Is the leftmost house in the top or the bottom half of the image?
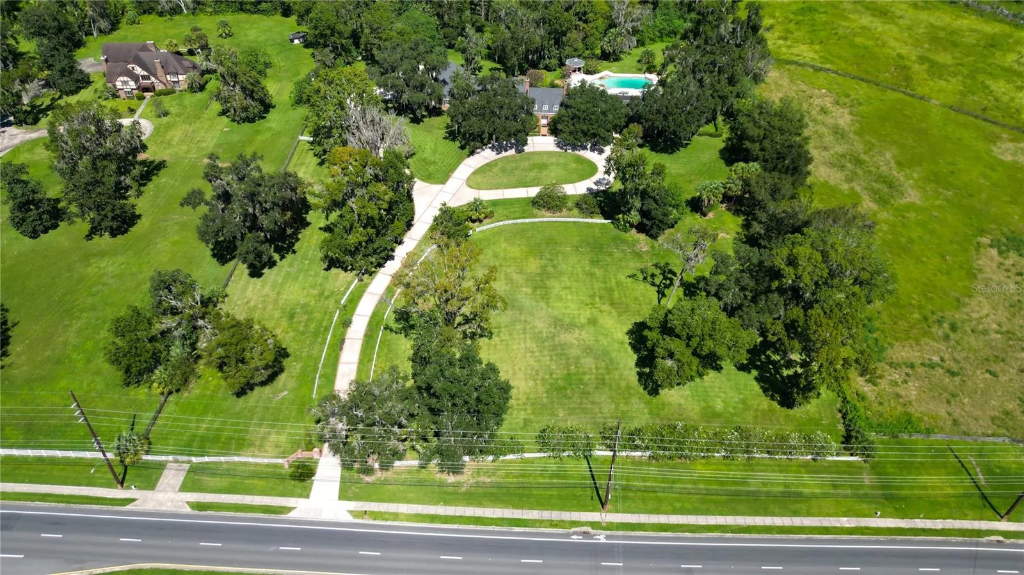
top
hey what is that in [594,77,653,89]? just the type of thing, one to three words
swimming pool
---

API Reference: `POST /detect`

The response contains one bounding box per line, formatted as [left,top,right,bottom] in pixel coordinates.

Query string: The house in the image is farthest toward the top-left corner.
[94,36,209,99]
